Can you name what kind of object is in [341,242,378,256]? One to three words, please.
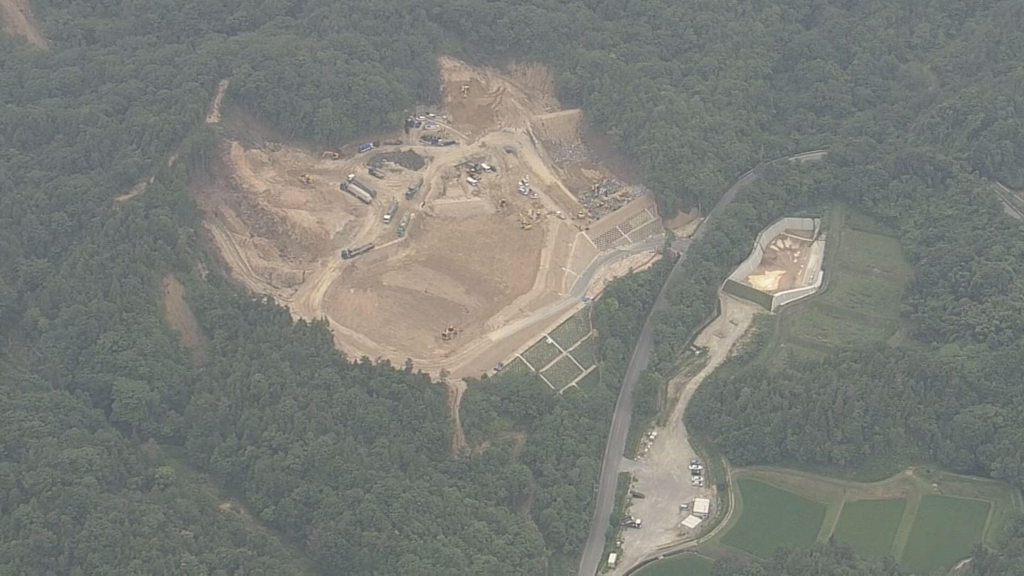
vehicle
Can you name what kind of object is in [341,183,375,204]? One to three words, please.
truck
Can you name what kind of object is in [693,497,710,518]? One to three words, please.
building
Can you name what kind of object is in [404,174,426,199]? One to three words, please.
truck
